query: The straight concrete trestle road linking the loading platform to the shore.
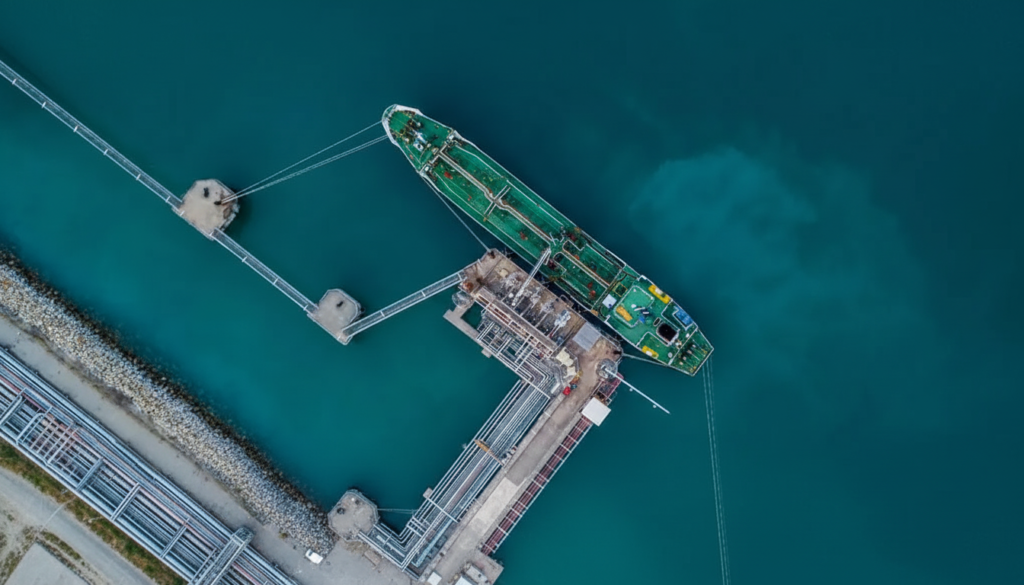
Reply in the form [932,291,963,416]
[406,393,585,585]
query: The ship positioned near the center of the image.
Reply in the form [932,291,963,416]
[376,105,714,375]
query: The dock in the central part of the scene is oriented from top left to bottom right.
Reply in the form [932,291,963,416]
[445,306,521,381]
